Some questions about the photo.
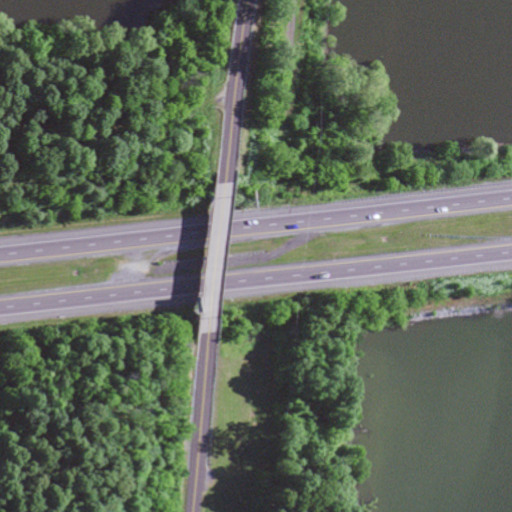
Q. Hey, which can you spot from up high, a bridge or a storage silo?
bridge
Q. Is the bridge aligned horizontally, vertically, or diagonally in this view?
vertically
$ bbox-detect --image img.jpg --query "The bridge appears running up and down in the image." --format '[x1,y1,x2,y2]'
[200,178,236,337]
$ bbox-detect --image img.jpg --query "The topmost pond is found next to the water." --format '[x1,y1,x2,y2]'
[0,0,171,28]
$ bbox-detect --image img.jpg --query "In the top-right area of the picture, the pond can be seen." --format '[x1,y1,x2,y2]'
[325,0,512,148]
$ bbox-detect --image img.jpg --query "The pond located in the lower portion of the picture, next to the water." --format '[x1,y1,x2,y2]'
[356,308,512,512]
